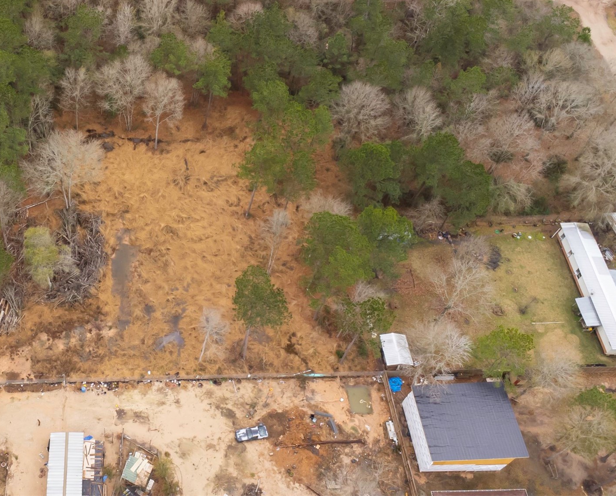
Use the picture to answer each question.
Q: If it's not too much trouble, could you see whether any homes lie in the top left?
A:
No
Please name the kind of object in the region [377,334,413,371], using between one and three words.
shed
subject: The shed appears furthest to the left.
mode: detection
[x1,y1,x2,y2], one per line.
[46,432,84,496]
